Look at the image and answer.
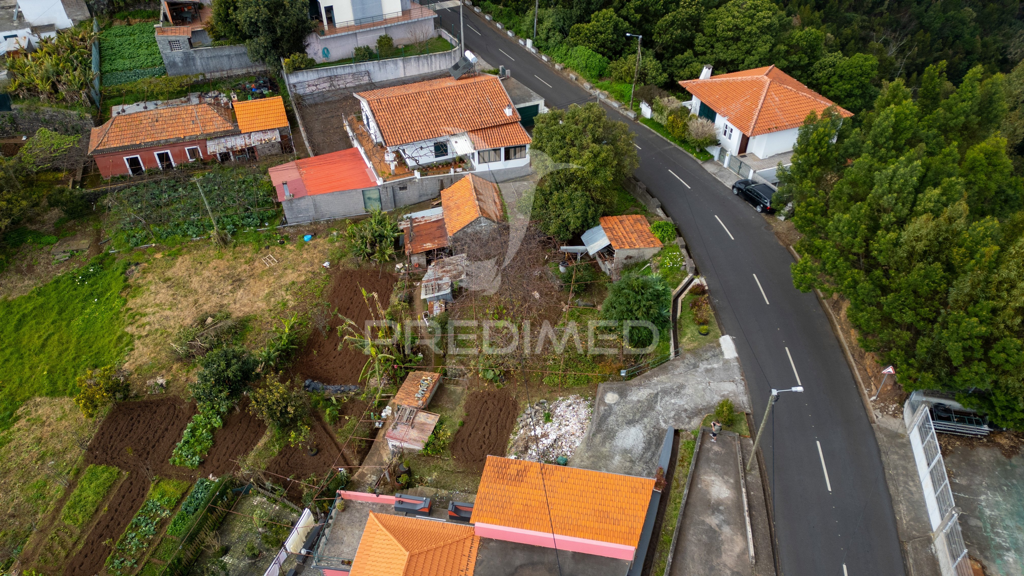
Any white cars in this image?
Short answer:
No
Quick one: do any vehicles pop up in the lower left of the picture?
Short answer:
No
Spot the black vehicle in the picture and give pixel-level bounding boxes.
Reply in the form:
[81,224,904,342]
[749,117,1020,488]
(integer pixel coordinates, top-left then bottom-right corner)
[730,181,782,210]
